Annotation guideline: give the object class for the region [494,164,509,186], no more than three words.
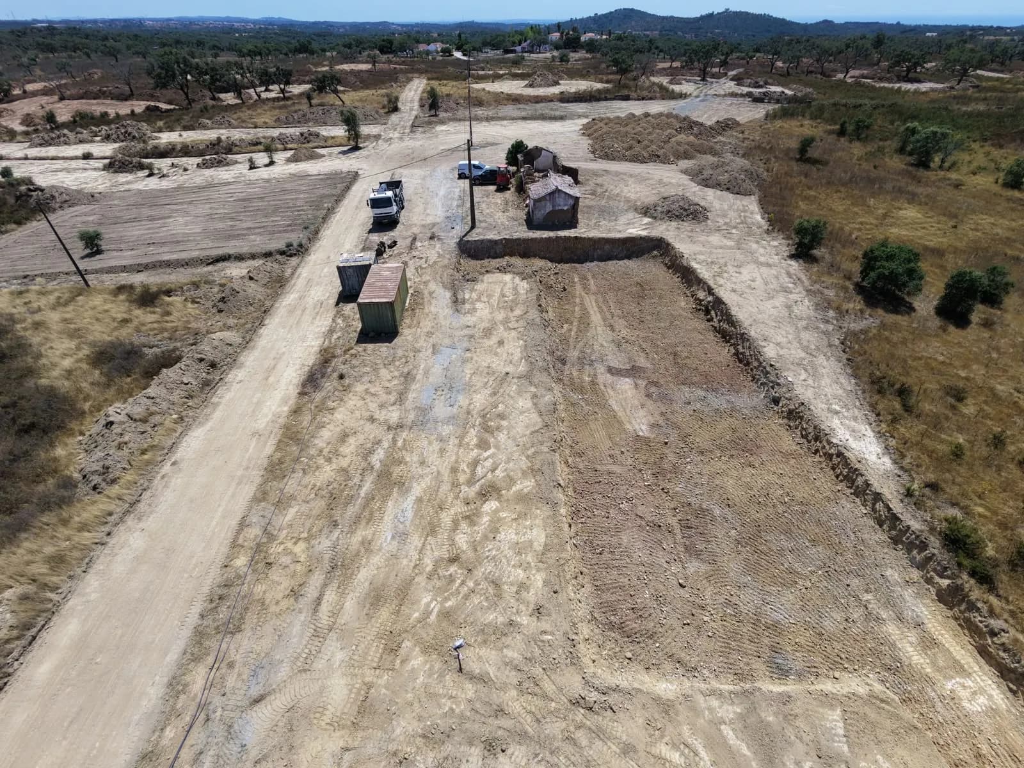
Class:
work vehicle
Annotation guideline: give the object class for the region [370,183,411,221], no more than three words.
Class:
truck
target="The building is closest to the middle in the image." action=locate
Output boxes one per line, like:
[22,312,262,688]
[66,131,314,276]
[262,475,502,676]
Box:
[526,170,584,226]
